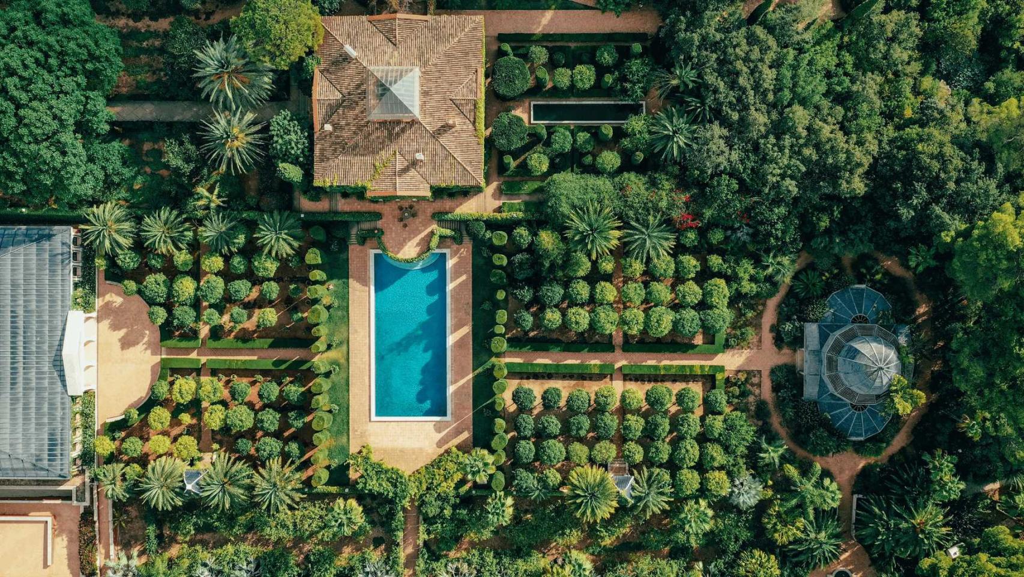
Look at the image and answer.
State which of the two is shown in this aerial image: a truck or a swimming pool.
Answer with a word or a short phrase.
swimming pool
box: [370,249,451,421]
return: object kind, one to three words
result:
swimming pool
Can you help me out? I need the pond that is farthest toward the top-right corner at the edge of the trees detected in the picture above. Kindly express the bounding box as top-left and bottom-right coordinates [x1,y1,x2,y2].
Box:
[531,101,645,124]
